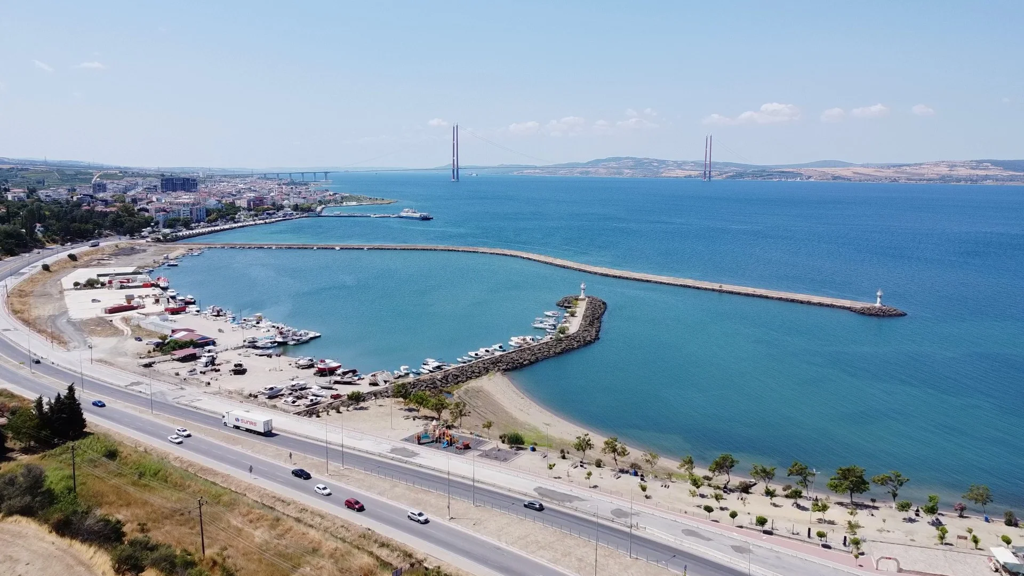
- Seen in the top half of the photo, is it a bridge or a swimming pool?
bridge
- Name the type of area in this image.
port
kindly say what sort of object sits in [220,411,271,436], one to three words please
truck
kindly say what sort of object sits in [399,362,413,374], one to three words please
boat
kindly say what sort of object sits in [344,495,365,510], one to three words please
car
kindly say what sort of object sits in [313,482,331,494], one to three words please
vehicle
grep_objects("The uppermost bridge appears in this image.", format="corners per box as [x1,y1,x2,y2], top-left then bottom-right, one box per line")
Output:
[186,122,794,181]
